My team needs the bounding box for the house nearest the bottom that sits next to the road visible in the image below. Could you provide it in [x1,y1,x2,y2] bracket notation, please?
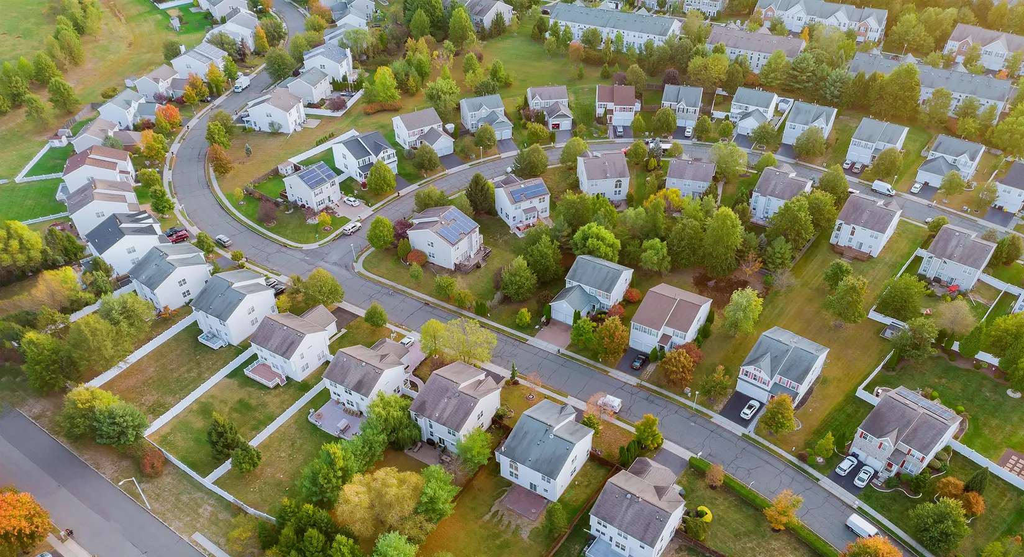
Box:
[572,455,682,557]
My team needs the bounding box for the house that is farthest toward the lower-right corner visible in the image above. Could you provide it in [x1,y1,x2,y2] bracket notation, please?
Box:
[854,381,962,479]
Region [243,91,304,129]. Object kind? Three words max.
house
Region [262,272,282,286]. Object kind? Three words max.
car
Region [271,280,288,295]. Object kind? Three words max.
car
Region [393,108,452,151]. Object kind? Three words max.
house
